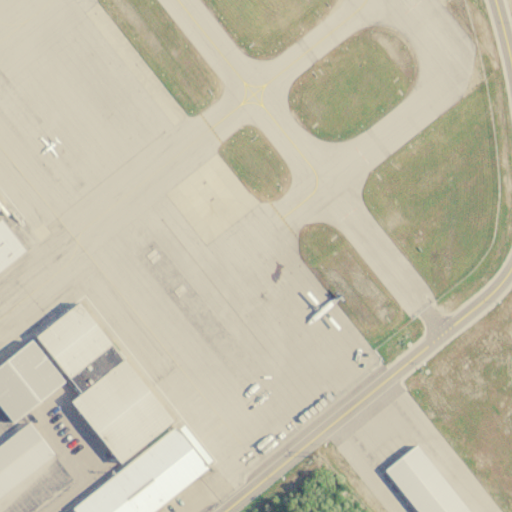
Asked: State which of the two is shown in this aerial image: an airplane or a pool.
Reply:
airplane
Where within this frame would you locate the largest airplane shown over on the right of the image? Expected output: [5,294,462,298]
[310,292,348,332]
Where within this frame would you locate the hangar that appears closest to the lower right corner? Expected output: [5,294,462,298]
[386,446,469,512]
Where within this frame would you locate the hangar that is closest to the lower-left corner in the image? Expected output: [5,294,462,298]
[0,424,56,500]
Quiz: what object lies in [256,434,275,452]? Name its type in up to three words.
vehicle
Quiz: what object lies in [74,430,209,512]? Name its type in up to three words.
hangar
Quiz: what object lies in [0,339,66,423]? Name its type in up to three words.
hangar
